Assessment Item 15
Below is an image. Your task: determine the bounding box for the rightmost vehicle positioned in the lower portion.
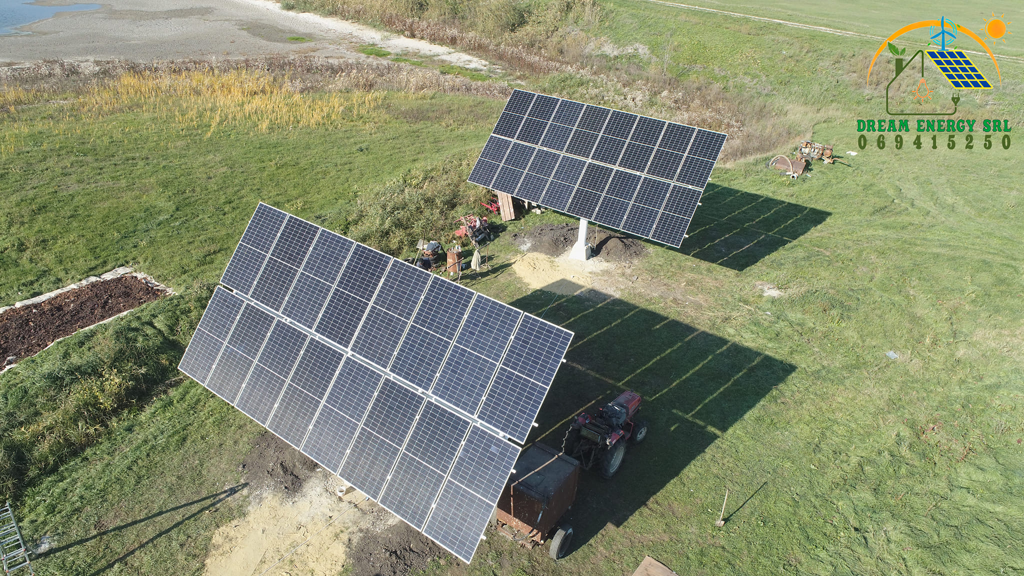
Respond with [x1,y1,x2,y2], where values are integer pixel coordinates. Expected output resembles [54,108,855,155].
[563,392,650,479]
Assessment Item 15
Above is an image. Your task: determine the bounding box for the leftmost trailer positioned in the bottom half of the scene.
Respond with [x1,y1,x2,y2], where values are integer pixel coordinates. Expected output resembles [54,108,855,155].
[493,435,581,554]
